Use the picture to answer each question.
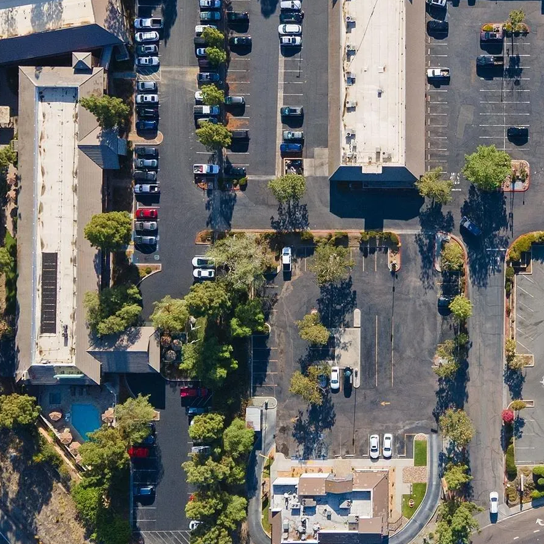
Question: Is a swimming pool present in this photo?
Yes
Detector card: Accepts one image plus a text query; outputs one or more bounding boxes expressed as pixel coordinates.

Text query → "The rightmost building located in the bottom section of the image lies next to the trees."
[271,468,389,544]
